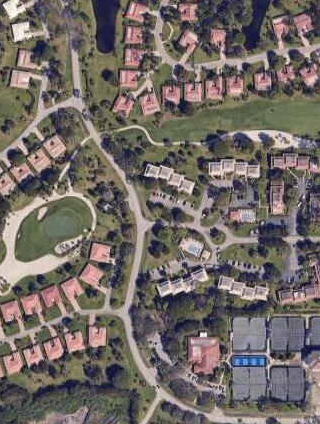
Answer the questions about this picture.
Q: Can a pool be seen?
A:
Yes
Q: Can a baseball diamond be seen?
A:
No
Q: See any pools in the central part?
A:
Yes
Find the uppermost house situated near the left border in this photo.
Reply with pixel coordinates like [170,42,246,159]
[2,0,26,20]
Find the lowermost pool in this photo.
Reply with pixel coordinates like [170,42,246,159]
[179,234,205,259]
